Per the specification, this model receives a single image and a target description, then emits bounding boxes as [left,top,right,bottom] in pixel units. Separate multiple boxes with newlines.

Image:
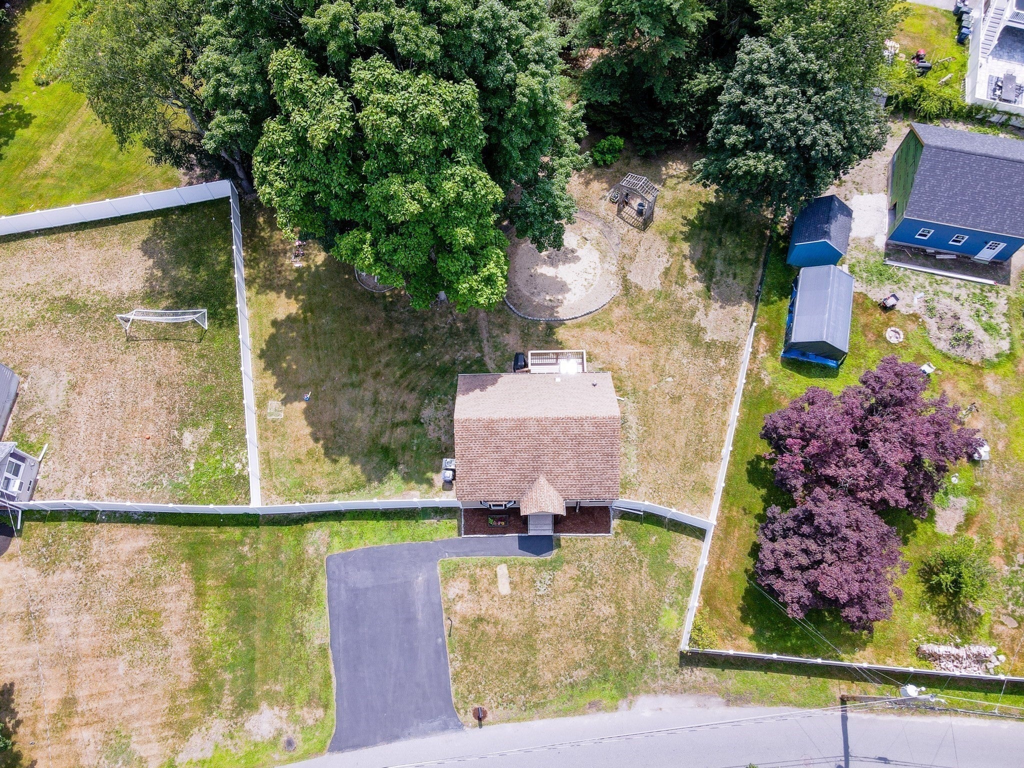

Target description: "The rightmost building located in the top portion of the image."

[887,122,1024,261]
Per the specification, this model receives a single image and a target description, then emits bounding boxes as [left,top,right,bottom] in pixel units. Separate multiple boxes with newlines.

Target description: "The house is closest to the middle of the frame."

[454,371,621,525]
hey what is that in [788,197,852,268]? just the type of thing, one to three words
shed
